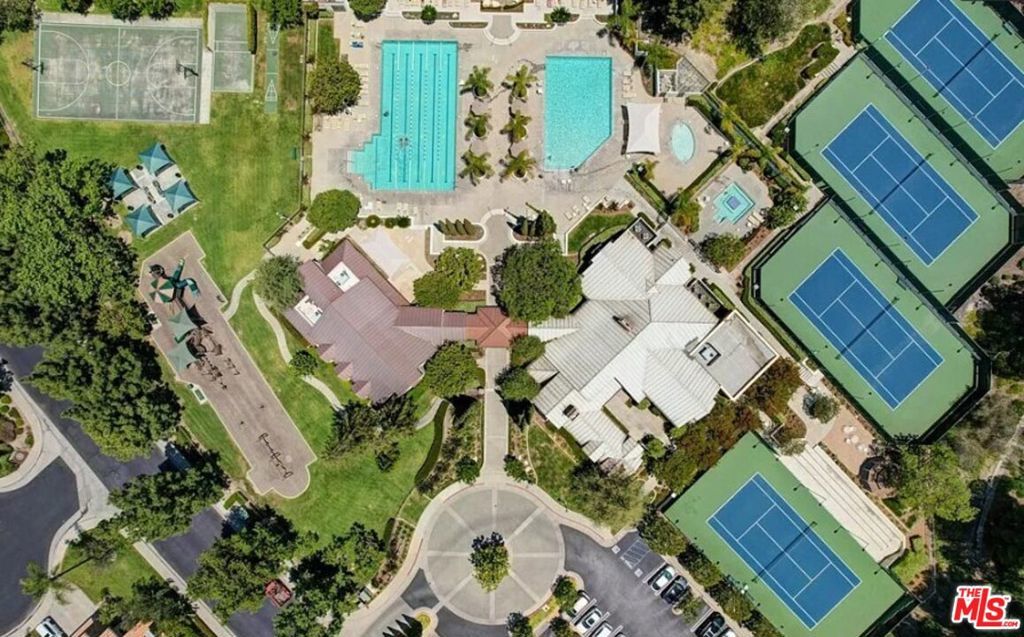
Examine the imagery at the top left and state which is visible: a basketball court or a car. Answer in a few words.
basketball court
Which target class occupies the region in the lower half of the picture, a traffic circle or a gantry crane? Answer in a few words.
traffic circle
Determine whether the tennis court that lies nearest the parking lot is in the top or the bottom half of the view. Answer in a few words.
bottom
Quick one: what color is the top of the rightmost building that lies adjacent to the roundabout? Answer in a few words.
white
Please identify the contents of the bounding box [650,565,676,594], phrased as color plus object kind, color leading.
white car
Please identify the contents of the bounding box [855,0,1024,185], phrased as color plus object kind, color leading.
blue tennis court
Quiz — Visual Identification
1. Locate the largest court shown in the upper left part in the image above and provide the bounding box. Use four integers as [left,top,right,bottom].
[35,23,201,123]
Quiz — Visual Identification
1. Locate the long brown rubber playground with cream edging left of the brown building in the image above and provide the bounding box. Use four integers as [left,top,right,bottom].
[136,231,317,499]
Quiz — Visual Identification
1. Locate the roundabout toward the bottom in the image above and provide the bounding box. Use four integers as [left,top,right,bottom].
[422,483,566,625]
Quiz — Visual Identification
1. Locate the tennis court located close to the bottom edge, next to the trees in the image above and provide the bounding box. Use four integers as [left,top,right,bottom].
[671,438,905,637]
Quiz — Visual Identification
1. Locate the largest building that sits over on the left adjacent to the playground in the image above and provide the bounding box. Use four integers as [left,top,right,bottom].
[282,238,436,405]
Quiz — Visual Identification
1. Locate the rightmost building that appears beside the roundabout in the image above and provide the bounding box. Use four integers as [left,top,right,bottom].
[528,230,720,476]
